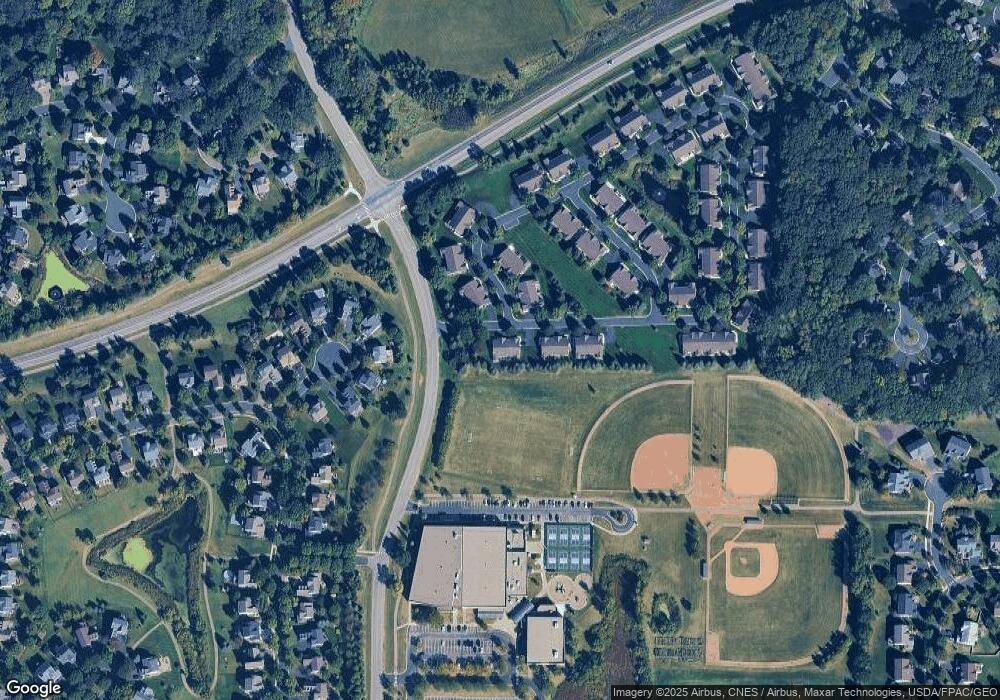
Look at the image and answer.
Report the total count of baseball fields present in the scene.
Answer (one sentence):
In total, there are 3 baseball fields in the scene.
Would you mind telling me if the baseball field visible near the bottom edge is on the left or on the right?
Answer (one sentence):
The baseball field visible near the bottom edge appears in the right half of the scene.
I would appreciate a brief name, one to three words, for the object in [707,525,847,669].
baseball field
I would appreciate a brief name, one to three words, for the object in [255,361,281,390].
house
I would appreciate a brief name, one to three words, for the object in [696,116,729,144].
house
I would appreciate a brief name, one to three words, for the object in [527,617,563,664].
building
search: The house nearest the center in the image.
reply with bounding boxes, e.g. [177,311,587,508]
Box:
[492,337,521,361]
